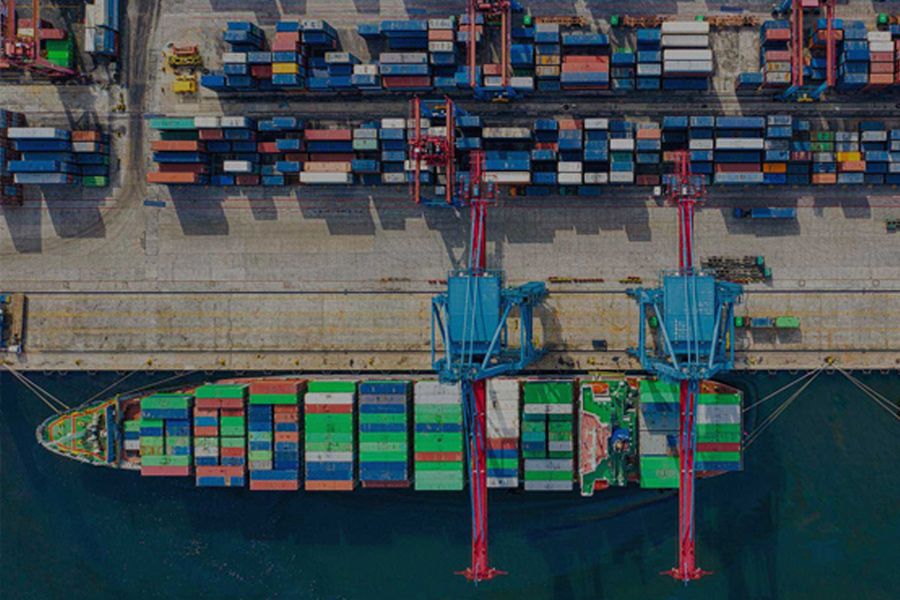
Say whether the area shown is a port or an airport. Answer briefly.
port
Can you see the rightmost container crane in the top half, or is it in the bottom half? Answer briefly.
top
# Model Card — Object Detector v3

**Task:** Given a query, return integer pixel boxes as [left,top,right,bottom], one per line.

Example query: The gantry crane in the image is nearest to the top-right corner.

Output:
[773,0,837,101]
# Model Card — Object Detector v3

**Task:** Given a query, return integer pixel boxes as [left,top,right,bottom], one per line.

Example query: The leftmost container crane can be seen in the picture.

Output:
[4,0,90,79]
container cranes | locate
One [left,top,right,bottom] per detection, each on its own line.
[430,148,547,589]
[465,0,524,101]
[410,96,472,209]
[627,148,743,589]
[773,0,837,101]
[4,0,90,79]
